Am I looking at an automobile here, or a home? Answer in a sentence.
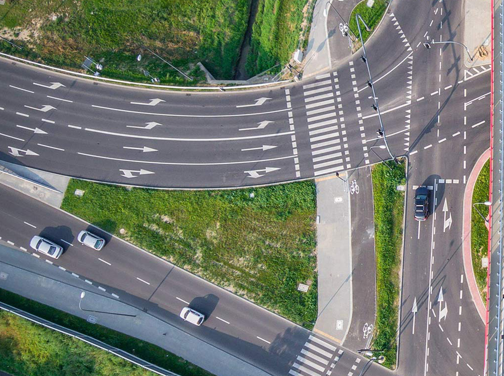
The image shows an automobile.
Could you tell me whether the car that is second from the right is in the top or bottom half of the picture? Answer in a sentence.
The car that is second from the right is in the bottom half of the image.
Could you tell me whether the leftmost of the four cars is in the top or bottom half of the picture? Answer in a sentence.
You can find the leftmost of the four cars in the bottom half.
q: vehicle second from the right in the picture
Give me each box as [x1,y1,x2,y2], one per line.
[180,307,207,327]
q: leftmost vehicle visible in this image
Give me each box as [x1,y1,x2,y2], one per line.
[30,236,65,260]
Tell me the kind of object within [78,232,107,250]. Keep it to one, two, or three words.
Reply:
car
